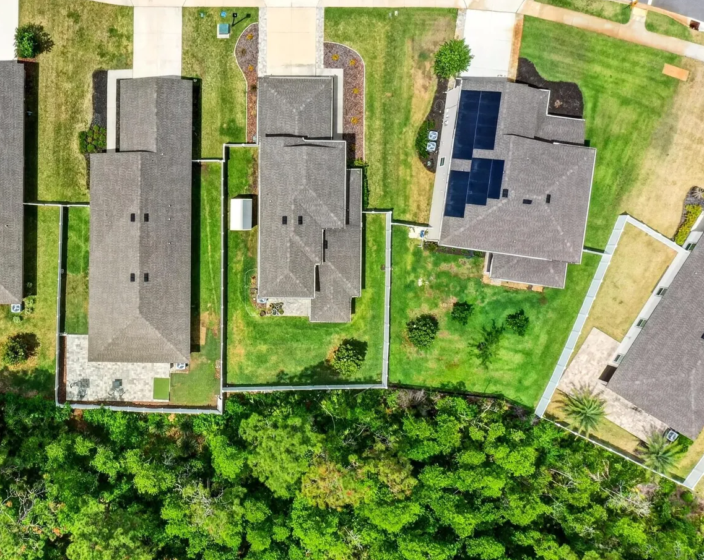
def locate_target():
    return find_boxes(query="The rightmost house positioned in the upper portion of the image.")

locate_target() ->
[426,79,597,289]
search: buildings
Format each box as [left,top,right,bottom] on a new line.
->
[0,62,24,303]
[596,210,704,440]
[426,79,597,289]
[231,199,252,231]
[257,77,362,323]
[88,77,192,364]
